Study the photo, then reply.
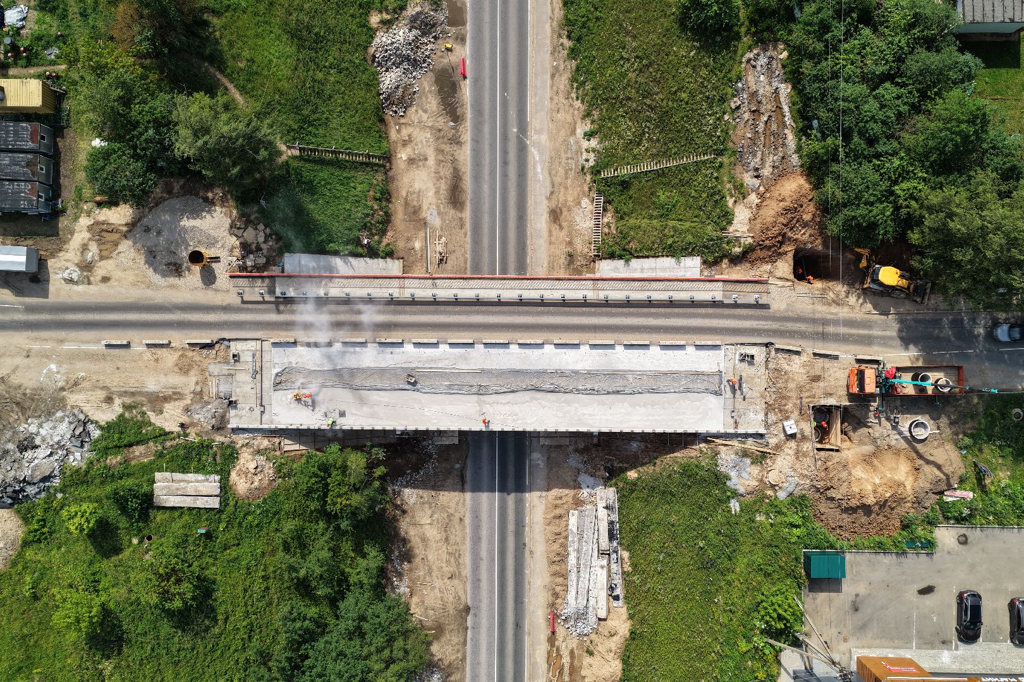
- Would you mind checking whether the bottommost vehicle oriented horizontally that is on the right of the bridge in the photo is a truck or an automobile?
truck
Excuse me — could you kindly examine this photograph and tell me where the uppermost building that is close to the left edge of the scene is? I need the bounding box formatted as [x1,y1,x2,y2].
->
[0,124,57,158]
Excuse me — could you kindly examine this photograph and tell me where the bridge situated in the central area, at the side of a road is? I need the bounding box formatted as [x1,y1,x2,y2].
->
[228,273,770,443]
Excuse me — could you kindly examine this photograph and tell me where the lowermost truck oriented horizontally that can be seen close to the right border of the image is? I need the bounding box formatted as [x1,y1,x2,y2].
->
[847,357,999,413]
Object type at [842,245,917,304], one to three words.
work vehicle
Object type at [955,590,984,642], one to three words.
car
